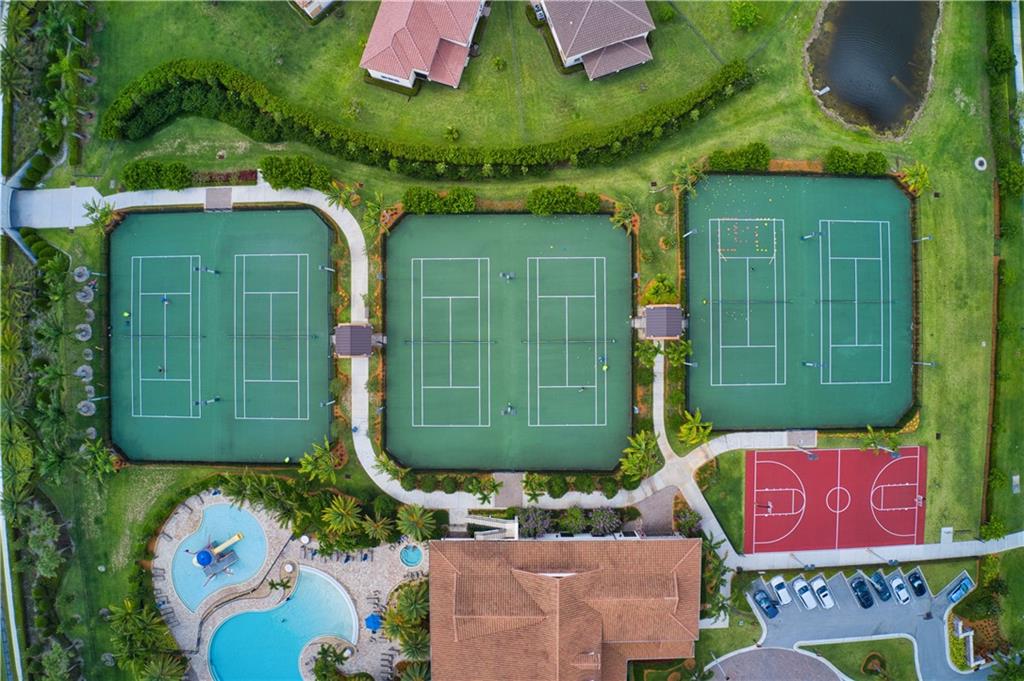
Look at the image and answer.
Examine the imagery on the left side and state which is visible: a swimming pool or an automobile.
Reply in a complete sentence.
The feature located on the left side is a swimming pool.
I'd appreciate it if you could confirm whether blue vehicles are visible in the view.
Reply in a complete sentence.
Yes, there is a blue vehicle in the image.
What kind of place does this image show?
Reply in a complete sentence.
The picture captures a sports ground.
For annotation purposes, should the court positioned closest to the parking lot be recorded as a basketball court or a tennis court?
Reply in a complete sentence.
The court positioned closest to the parking lot can be classified as a basketball court.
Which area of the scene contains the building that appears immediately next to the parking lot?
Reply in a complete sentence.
The building that appears immediately next to the parking lot is located in the bottom region of the scene.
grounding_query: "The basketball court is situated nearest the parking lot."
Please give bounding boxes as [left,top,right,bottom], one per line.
[744,446,928,553]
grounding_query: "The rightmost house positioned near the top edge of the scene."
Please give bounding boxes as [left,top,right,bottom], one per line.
[541,0,656,86]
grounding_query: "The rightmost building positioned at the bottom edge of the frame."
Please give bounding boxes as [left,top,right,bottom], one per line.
[429,529,702,681]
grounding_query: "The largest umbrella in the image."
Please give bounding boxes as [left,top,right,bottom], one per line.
[366,612,384,630]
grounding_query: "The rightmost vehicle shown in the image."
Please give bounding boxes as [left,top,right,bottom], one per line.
[946,577,972,603]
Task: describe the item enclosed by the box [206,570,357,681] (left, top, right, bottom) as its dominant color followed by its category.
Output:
blue swimming pool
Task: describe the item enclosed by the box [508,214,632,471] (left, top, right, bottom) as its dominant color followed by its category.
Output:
green tennis court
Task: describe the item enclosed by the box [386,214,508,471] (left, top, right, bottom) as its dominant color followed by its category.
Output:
green tennis court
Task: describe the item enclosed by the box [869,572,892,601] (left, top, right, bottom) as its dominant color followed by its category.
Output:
blue car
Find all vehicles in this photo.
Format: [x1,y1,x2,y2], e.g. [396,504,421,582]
[755,590,777,618]
[792,578,818,609]
[905,572,927,597]
[888,576,911,605]
[770,576,792,604]
[946,577,972,603]
[869,572,892,601]
[810,577,835,608]
[849,577,876,609]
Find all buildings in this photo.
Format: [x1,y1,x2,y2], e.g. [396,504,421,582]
[298,0,335,17]
[429,529,702,681]
[335,323,376,359]
[642,304,682,341]
[541,0,656,86]
[360,0,481,93]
